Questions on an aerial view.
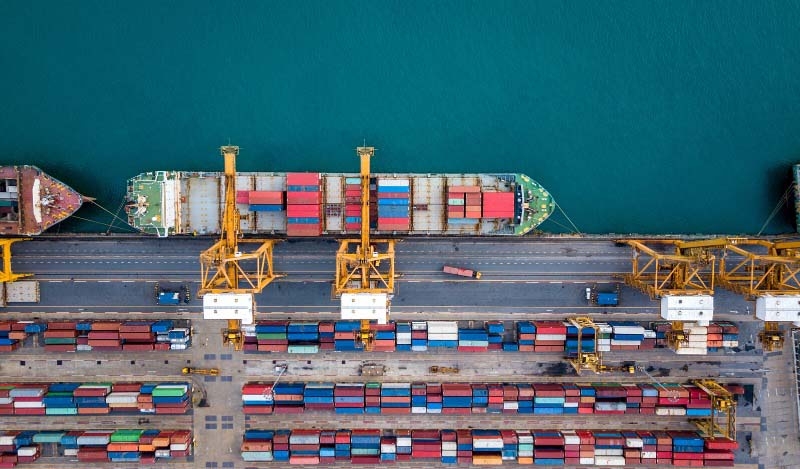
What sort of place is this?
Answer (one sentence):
It's a port.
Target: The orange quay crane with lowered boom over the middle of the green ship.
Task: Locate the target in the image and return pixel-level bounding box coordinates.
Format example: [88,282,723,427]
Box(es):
[330,137,409,345]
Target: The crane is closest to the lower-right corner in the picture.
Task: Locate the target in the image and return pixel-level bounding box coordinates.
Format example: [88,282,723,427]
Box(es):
[688,379,737,442]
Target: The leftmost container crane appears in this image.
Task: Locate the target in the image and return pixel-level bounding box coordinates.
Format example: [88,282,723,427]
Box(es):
[0,241,32,285]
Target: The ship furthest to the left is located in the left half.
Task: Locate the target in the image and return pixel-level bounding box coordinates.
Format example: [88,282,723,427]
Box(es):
[0,165,100,237]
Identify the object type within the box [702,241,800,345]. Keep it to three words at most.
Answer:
container crane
